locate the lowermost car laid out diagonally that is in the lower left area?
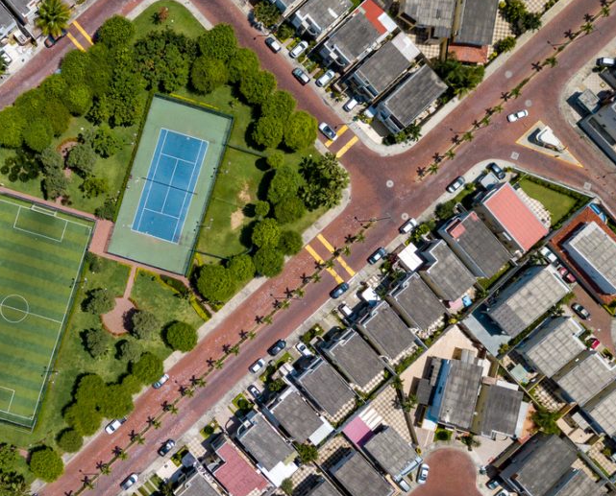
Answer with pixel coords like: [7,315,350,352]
[120,473,139,490]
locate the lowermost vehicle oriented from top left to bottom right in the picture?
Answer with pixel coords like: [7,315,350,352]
[394,476,414,496]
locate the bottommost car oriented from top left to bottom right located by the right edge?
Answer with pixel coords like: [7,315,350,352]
[570,302,590,321]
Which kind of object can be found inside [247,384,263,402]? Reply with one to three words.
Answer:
car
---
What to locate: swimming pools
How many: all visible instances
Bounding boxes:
[462,293,475,308]
[590,202,607,220]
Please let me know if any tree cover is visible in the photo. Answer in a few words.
Yes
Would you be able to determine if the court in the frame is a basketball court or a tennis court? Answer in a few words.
tennis court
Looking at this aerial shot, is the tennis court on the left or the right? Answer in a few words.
left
